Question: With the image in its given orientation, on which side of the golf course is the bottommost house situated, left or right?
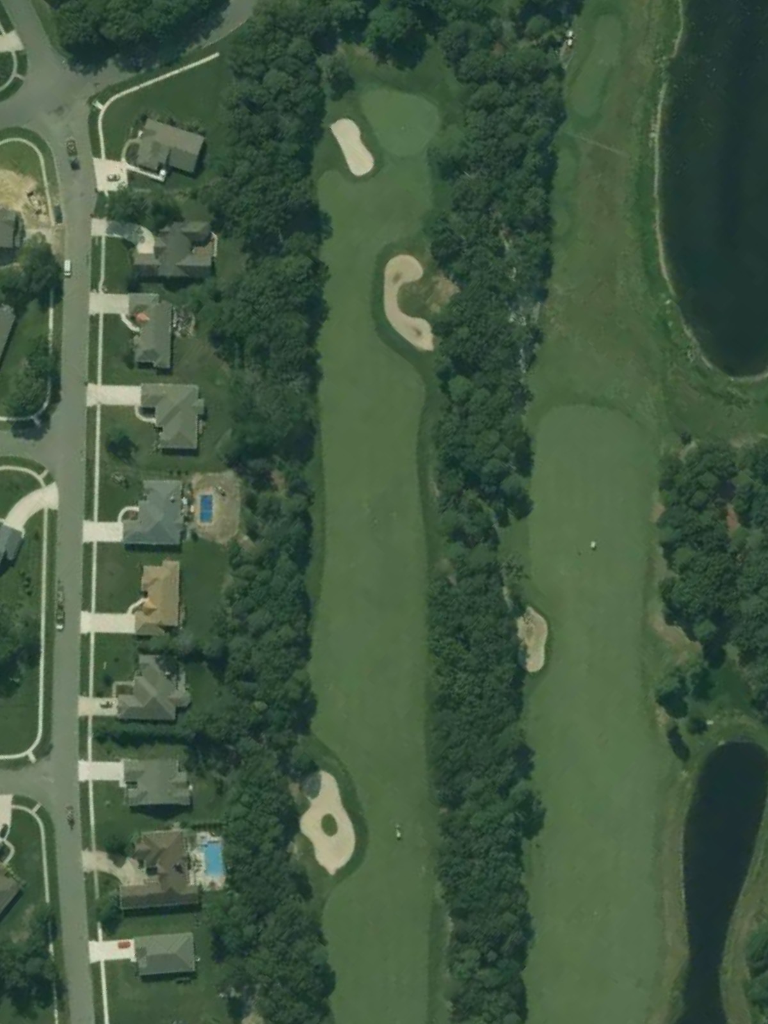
on its left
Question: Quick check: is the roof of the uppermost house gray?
Yes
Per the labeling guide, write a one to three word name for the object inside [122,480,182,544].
house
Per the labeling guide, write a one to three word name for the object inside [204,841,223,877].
swimming pool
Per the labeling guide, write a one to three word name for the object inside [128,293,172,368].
house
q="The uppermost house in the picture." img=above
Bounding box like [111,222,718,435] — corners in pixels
[134,118,205,172]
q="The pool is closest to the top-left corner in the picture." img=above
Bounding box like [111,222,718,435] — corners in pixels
[199,494,214,524]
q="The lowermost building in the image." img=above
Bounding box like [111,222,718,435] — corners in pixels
[133,933,196,976]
